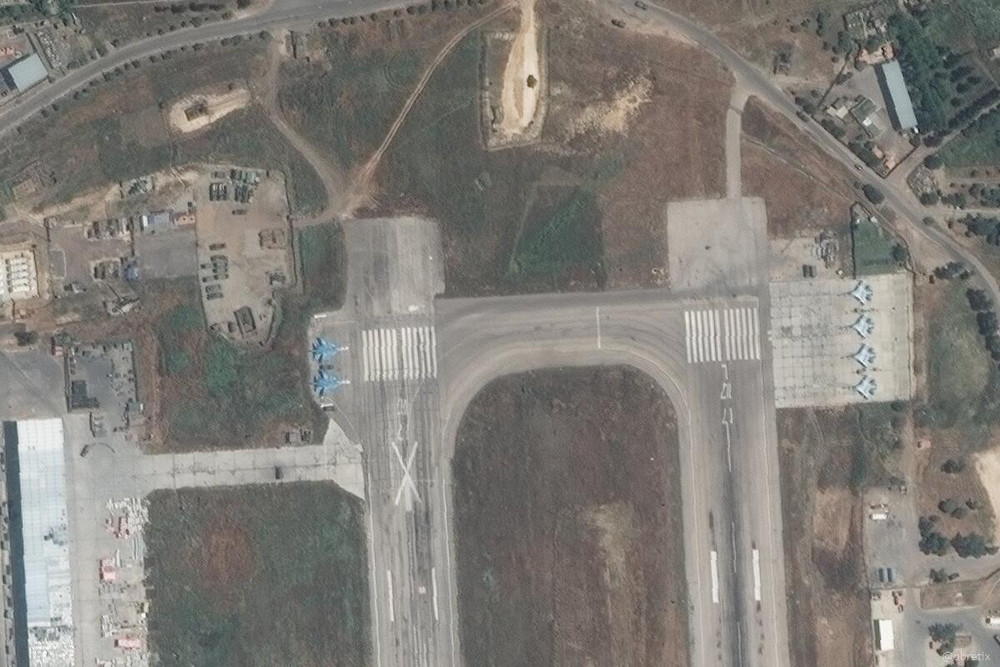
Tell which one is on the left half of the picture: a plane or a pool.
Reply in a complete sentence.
You can see a plane on the left half of the picture.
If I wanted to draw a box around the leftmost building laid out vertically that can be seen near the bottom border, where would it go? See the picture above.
[17,418,78,667]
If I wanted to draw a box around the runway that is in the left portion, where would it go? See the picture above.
[309,217,461,667]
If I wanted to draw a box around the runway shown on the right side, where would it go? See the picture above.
[667,197,789,667]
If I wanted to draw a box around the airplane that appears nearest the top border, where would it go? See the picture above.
[841,281,874,305]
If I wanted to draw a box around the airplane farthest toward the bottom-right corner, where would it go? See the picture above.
[844,376,877,398]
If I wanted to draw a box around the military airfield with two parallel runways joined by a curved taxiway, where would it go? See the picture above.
[62,197,913,667]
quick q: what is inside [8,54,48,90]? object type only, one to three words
building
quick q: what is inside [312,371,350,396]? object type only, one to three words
airplane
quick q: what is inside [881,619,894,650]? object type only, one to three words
shed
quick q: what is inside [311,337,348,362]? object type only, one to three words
airplane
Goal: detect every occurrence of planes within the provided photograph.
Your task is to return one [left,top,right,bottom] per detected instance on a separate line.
[842,315,874,338]
[841,281,874,305]
[311,337,348,362]
[843,344,876,367]
[312,371,350,396]
[844,376,877,398]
